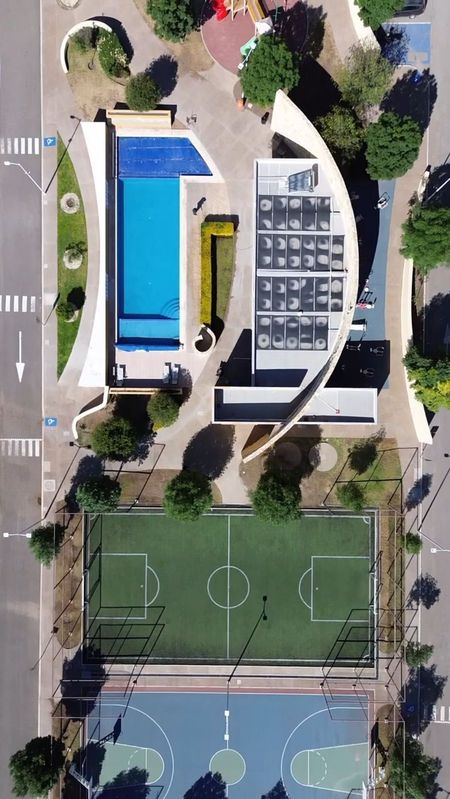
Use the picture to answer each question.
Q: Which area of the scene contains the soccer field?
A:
bottom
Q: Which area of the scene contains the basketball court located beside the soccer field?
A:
bottom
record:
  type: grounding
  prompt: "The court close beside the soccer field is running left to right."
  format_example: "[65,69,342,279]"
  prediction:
[84,687,371,799]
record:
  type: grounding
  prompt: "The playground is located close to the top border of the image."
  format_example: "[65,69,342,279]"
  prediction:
[200,0,311,70]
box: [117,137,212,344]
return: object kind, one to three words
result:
swimming pool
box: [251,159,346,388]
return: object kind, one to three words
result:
building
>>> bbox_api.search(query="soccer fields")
[83,510,377,667]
